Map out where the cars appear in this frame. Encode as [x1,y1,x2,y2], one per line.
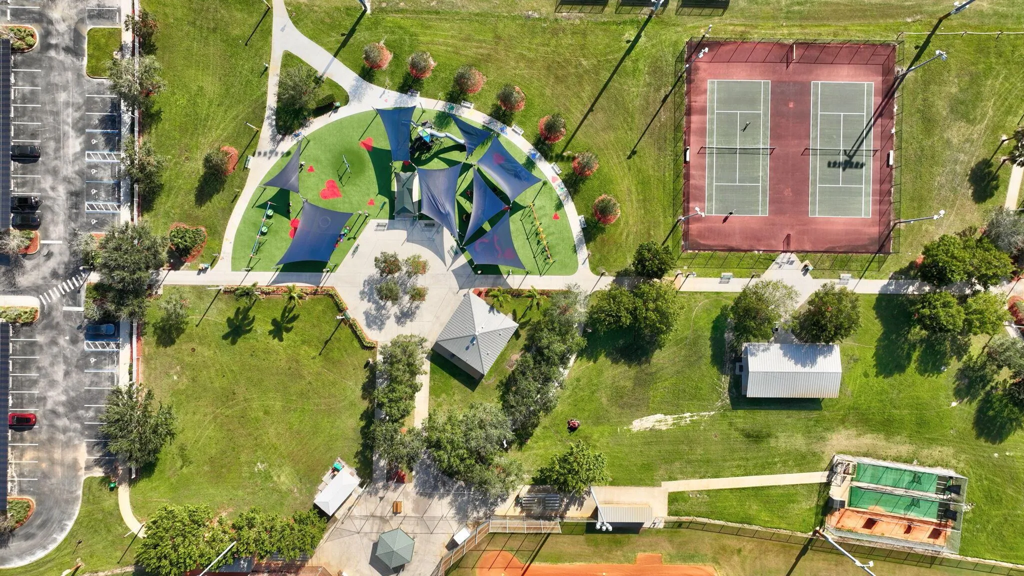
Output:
[15,214,41,226]
[11,412,39,425]
[12,195,41,207]
[14,144,43,157]
[86,323,115,336]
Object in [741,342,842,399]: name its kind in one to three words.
building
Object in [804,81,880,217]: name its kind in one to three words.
tennis court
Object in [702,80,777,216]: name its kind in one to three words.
tennis court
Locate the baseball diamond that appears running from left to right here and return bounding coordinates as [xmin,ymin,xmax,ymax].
[434,518,1024,576]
